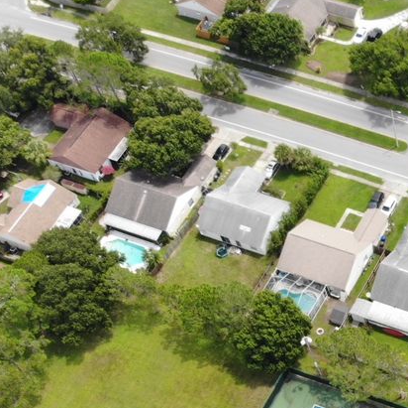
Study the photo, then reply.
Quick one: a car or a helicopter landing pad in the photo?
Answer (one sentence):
It is a car that can be seen here.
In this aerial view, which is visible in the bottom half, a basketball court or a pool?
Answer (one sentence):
Looking in the bottom half, you will find a pool.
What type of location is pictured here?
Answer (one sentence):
This looks like a residential area.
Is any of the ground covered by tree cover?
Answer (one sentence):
Yes, there's tree cover in this view.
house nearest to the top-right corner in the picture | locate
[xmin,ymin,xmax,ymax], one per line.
[267,0,368,45]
